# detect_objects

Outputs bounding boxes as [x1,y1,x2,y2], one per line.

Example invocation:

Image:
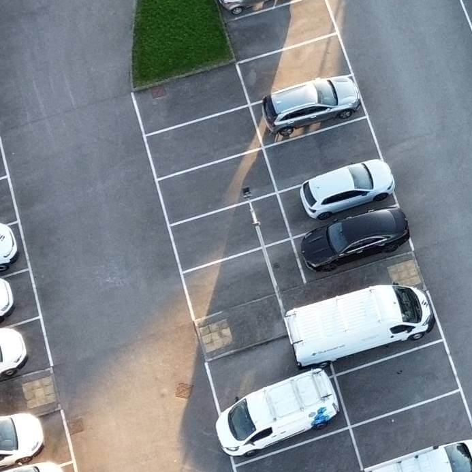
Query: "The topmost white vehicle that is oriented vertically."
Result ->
[0,225,20,274]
